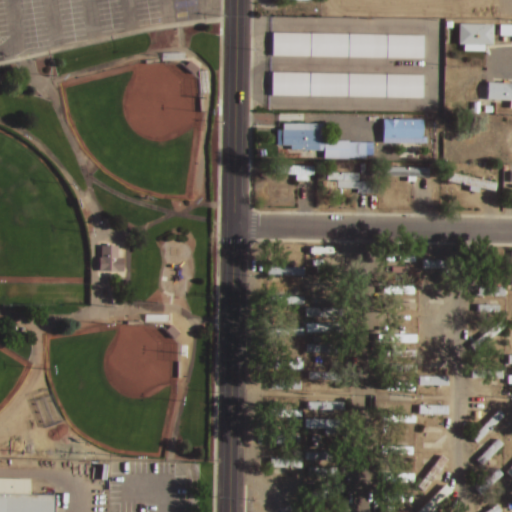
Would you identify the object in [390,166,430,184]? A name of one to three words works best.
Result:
house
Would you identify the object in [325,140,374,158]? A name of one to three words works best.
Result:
building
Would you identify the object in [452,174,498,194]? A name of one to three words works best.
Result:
house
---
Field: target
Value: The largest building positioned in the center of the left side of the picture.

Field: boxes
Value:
[100,244,126,271]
